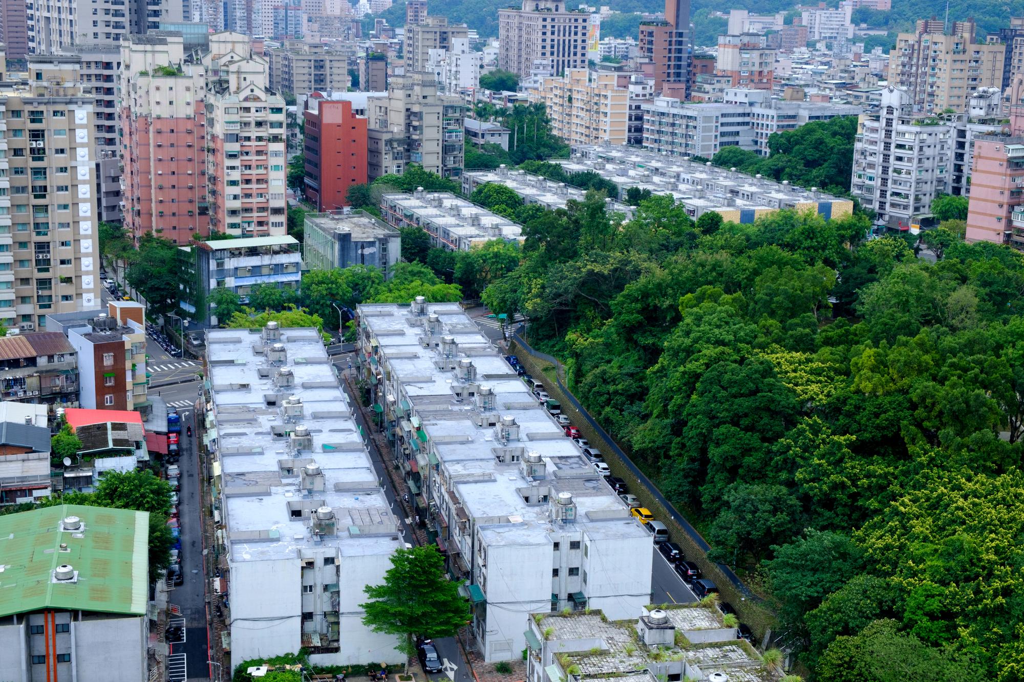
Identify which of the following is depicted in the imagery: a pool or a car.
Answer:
car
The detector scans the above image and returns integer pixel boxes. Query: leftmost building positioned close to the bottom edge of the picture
[0,499,149,682]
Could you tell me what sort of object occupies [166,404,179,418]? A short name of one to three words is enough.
vehicle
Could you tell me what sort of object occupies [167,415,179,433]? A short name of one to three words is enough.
vehicle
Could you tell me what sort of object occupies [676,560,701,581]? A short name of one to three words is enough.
car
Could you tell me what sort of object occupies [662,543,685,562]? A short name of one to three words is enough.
car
